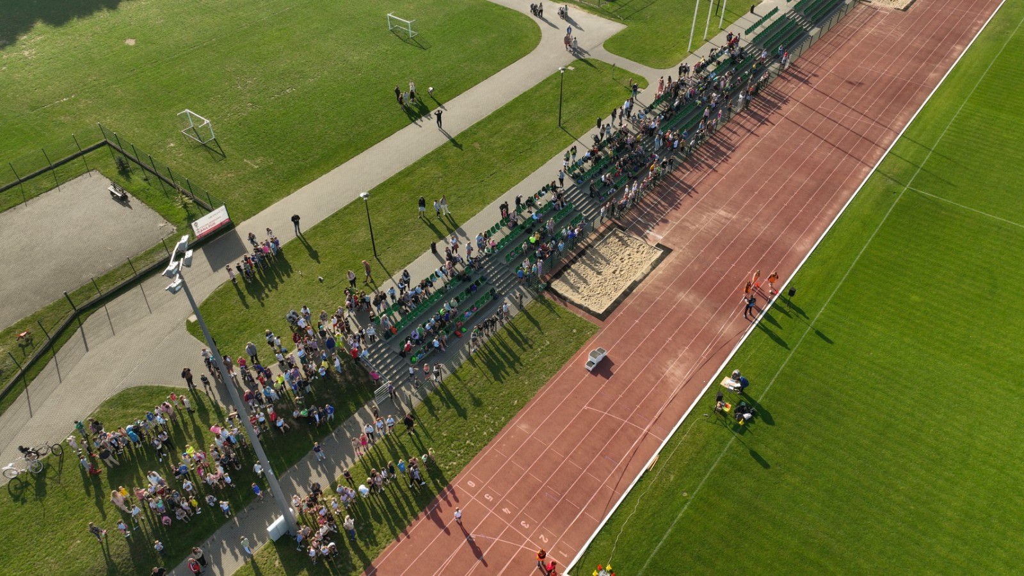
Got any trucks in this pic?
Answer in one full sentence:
No, there isn't any truck down there.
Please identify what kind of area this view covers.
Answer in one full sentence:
This image shows a sports ground.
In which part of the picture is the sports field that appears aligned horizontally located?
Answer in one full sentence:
The sports field that appears aligned horizontally is in the top left part of the image.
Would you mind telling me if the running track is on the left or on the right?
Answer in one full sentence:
You can find the running track on the right side of the picture.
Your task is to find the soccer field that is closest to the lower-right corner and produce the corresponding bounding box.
[569,0,1024,576]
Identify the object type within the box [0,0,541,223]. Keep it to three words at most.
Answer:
sports field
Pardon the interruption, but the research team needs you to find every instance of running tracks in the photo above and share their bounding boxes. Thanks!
[359,0,1006,576]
